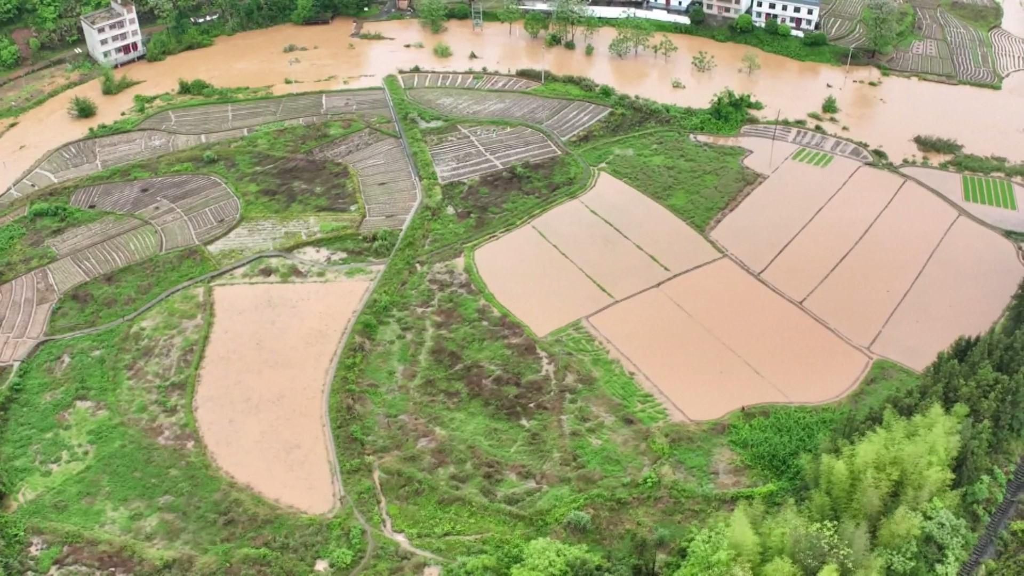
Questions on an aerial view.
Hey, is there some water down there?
Yes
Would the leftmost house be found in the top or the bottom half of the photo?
top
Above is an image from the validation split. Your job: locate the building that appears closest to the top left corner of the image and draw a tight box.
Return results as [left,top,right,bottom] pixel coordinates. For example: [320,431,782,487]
[78,0,147,65]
